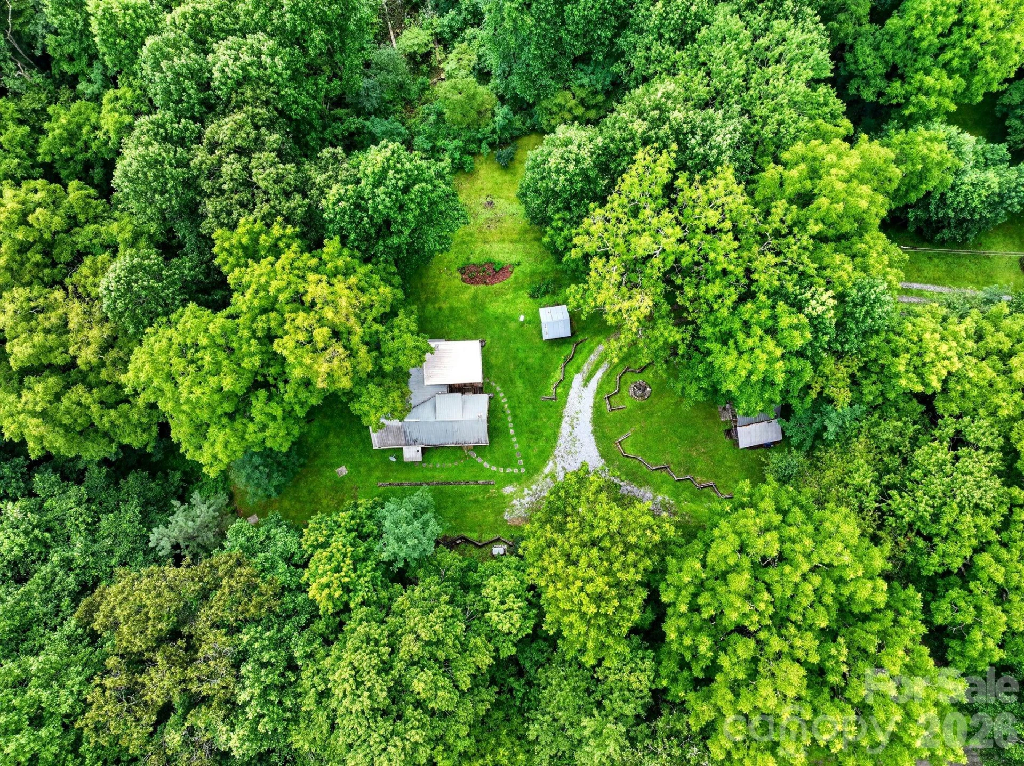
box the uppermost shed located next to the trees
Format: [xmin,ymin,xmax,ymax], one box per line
[539,305,571,343]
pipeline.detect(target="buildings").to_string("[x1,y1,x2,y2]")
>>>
[734,401,782,448]
[539,305,571,343]
[366,339,492,461]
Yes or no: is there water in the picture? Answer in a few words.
No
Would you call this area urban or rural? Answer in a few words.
rural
